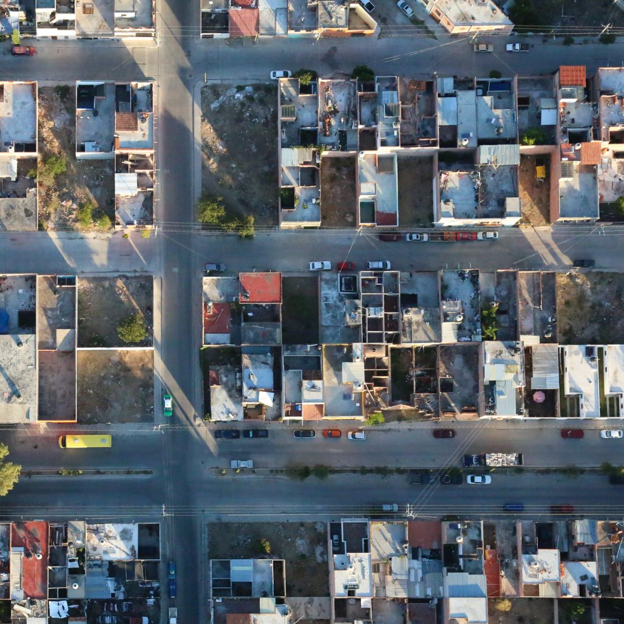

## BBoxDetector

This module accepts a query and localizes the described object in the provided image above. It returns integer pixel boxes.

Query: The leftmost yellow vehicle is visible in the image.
[59,433,112,448]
